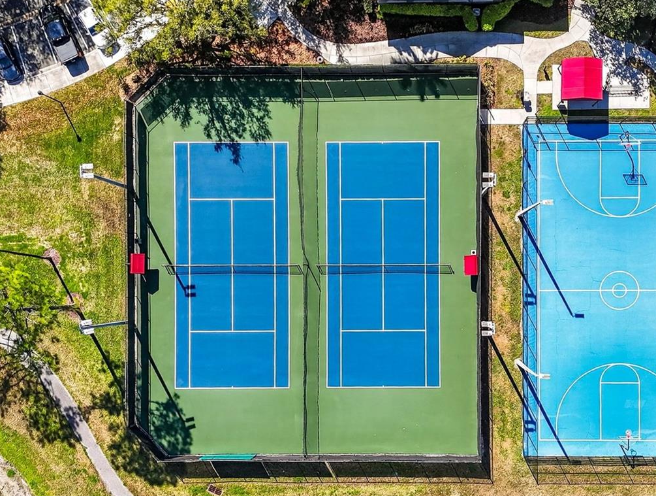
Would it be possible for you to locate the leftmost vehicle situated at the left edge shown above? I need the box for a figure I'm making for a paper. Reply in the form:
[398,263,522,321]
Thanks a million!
[0,35,23,85]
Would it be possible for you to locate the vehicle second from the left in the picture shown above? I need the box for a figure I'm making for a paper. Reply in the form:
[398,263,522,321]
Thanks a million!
[41,4,86,67]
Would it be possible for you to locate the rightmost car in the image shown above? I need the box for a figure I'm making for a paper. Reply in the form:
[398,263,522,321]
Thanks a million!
[74,4,117,58]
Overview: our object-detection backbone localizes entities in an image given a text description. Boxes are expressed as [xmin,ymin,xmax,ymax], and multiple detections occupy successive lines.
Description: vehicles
[0,35,23,85]
[41,4,86,67]
[74,4,117,58]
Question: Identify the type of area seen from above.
sports ground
